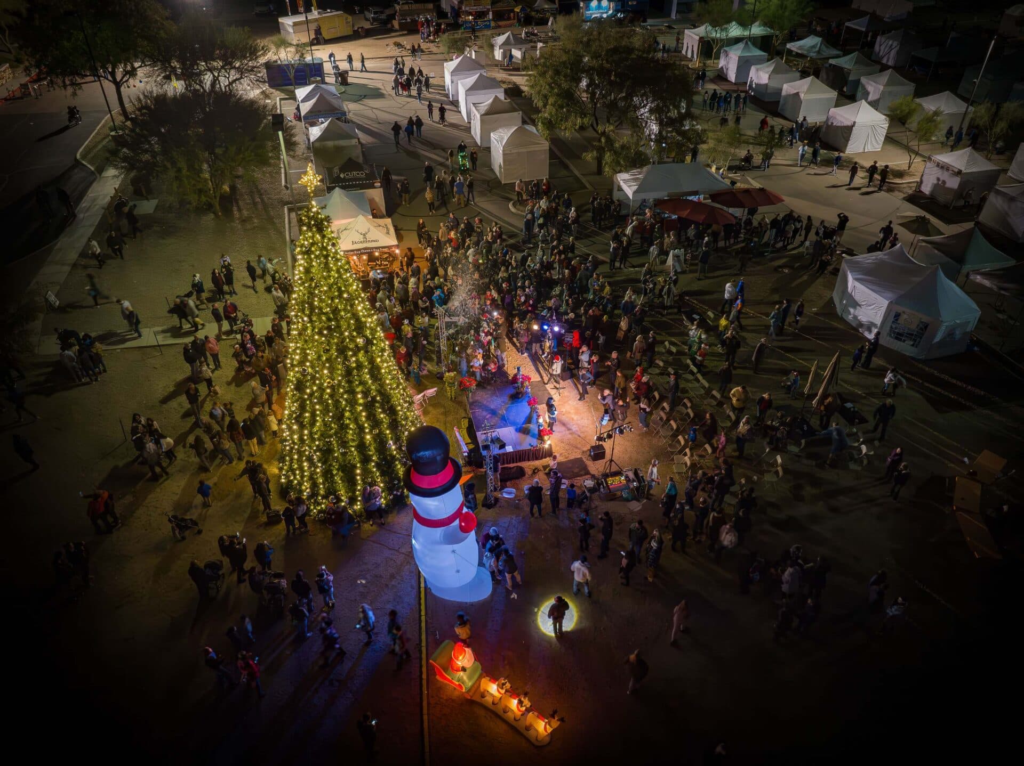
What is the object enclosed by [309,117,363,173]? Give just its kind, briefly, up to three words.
tent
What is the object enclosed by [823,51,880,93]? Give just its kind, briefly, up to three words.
tent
